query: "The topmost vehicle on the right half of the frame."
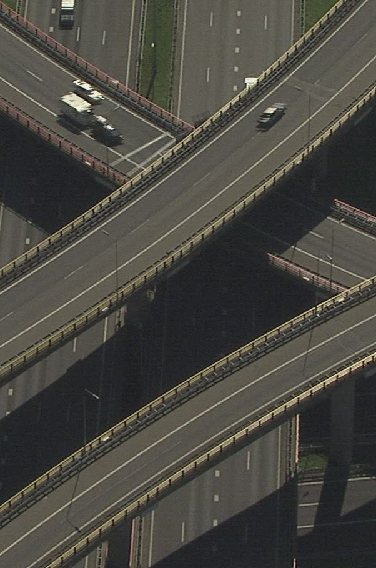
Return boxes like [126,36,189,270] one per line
[241,68,259,89]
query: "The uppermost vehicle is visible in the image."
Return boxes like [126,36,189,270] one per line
[57,0,76,26]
